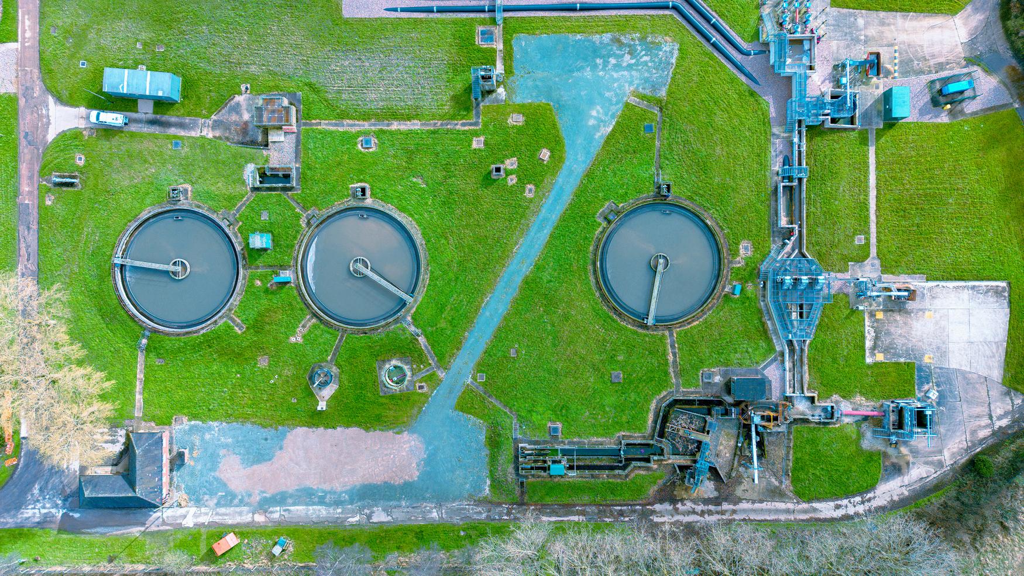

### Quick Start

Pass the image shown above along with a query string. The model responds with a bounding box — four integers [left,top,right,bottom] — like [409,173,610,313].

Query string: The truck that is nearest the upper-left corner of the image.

[85,106,127,127]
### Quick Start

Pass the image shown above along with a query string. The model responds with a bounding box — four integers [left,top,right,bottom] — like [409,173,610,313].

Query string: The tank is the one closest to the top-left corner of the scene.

[106,206,242,334]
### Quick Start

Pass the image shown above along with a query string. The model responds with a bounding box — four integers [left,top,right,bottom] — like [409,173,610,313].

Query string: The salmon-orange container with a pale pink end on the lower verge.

[212,529,244,556]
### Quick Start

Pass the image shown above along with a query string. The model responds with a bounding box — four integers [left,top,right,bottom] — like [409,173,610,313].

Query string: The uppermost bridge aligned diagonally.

[353,261,416,307]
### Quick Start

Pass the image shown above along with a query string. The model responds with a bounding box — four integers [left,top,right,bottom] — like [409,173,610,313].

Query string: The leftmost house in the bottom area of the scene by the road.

[79,432,170,508]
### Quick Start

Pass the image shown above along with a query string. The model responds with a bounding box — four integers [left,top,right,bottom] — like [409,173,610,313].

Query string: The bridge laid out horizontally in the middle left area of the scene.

[106,253,180,272]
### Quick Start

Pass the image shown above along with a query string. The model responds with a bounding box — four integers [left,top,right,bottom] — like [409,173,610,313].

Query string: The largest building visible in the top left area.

[102,68,182,102]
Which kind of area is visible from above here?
industrial area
